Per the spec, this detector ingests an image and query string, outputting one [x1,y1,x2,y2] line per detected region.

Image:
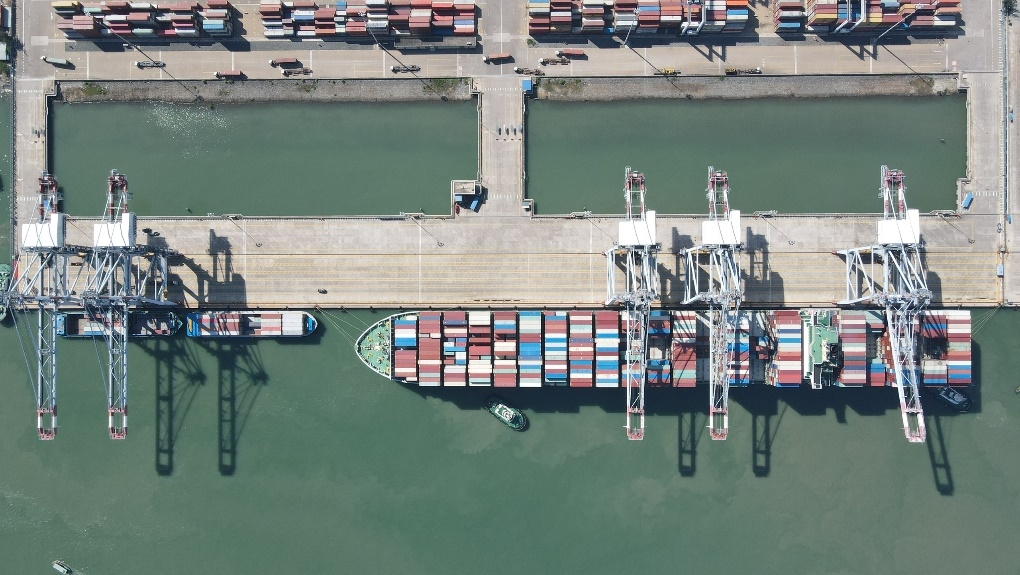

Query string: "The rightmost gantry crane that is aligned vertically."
[835,165,941,444]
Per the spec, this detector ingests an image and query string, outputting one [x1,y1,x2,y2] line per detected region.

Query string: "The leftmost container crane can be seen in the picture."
[0,170,111,441]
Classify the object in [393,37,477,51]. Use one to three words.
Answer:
shed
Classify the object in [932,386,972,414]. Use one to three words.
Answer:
boat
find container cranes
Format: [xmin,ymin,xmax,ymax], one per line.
[75,169,180,441]
[676,166,746,441]
[679,0,707,39]
[0,170,111,441]
[835,165,941,444]
[602,166,659,440]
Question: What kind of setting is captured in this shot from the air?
port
